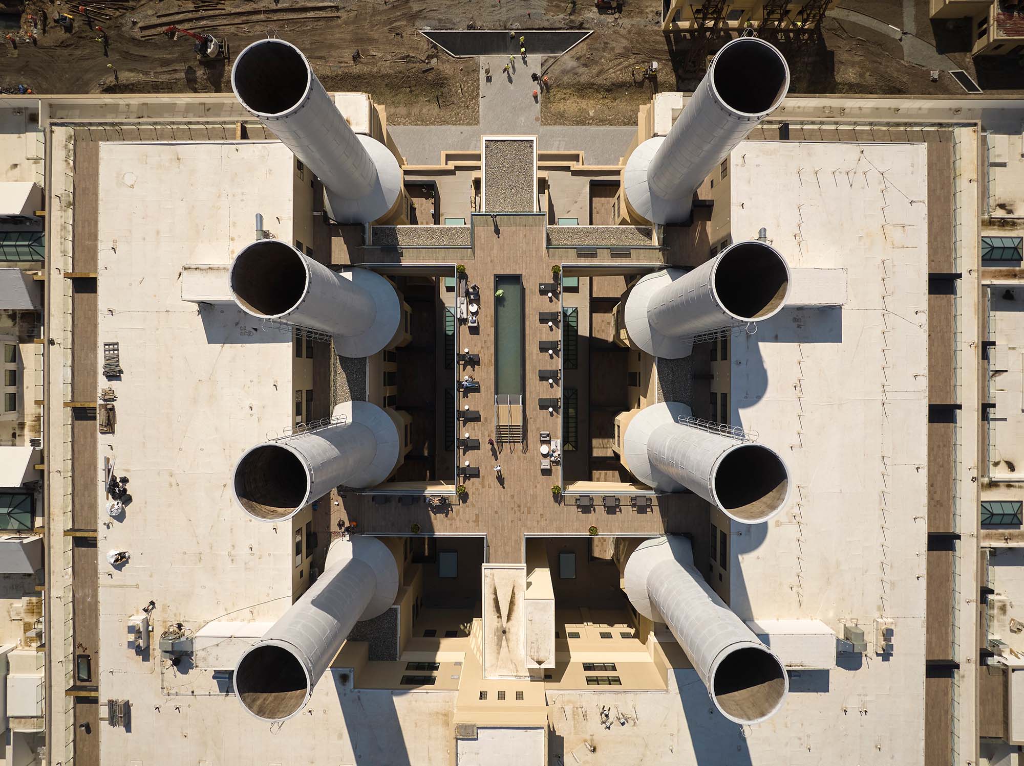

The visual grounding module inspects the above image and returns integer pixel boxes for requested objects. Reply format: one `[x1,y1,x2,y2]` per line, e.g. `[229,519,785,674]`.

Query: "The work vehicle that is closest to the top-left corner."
[51,13,76,30]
